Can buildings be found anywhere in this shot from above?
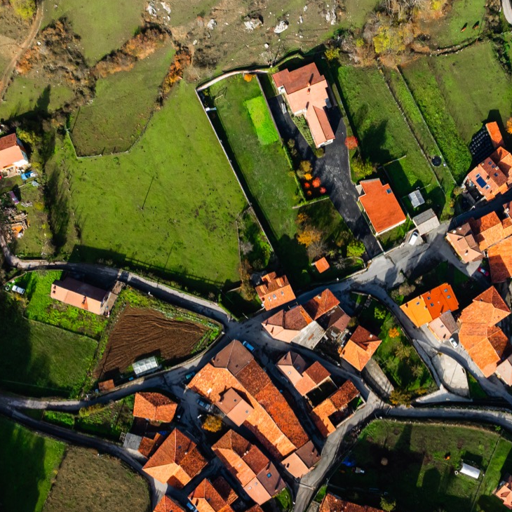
Yes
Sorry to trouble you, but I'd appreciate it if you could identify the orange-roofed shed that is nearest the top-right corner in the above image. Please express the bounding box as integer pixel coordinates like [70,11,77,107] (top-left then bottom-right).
[483,122,504,152]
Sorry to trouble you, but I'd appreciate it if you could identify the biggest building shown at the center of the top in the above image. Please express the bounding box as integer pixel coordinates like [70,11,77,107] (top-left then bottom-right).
[272,62,334,152]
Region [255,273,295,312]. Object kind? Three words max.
house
